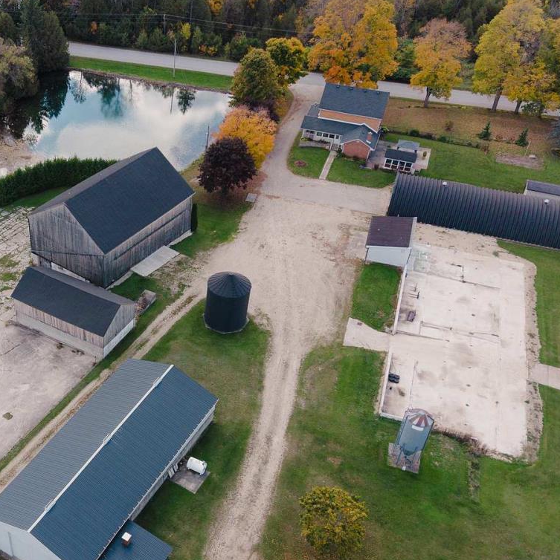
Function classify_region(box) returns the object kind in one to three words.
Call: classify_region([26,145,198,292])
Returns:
barn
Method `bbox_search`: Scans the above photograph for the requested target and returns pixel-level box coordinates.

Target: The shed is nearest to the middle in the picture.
[362,218,409,266]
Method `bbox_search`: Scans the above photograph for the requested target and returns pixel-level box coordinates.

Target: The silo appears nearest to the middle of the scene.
[201,270,256,337]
